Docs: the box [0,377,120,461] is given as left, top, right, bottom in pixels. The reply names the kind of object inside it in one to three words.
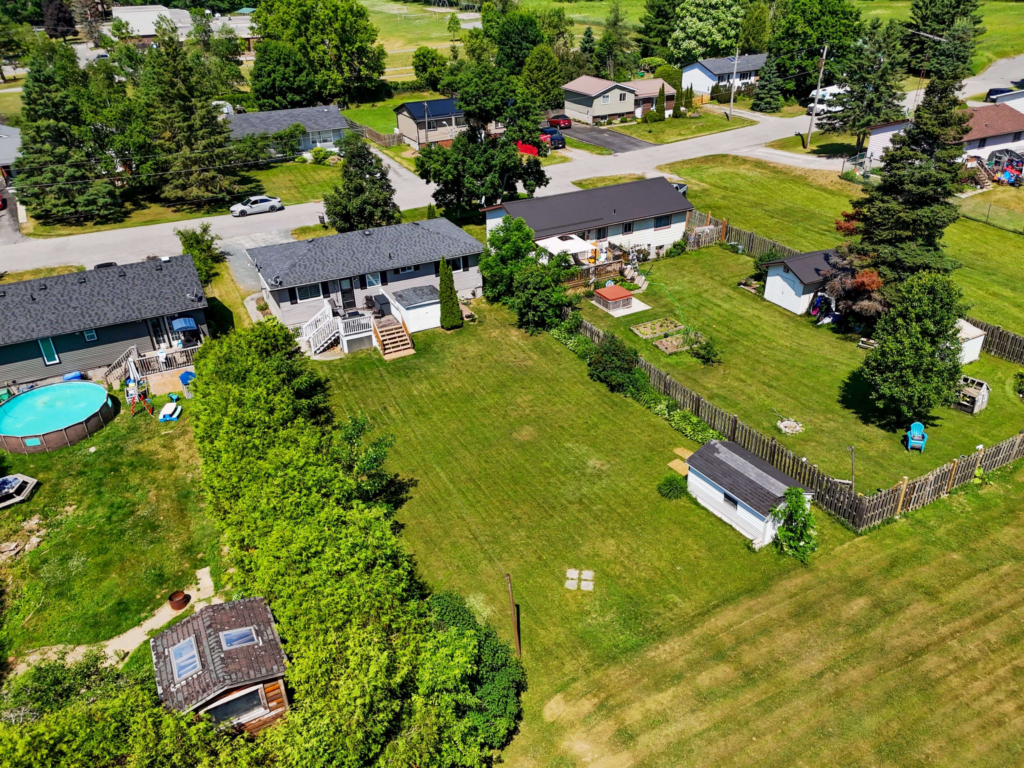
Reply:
swimming pool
